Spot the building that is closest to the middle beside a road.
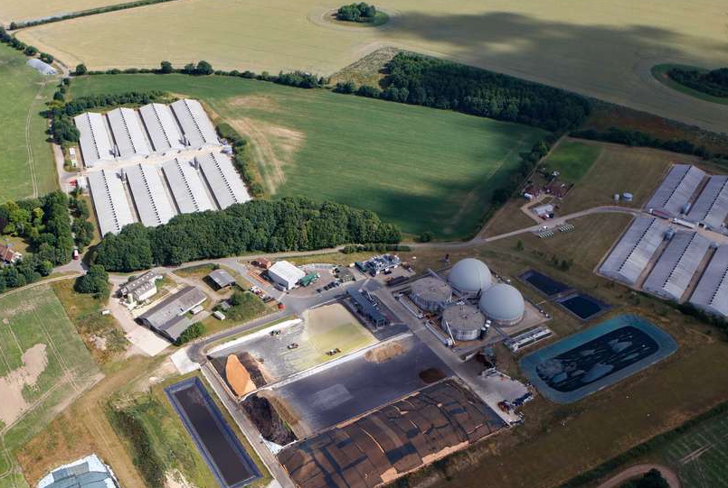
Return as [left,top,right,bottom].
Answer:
[352,247,402,280]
